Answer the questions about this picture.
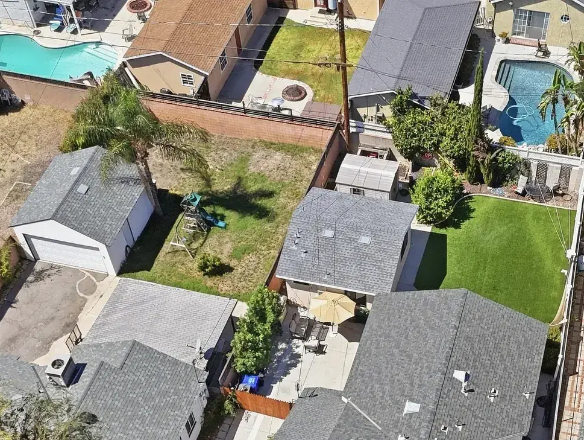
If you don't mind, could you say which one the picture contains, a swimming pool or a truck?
swimming pool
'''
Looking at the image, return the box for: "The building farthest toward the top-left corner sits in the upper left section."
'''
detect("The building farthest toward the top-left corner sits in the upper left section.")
[4,0,81,34]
